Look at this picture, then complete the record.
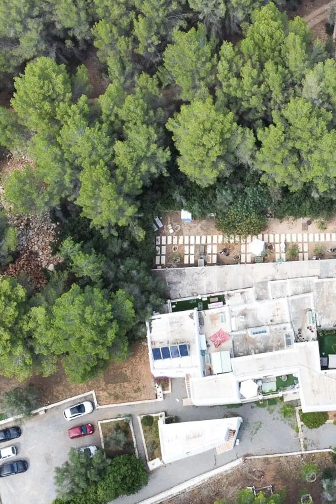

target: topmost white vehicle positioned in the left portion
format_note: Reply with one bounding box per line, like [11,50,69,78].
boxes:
[62,400,95,421]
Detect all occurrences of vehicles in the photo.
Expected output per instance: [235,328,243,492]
[0,460,29,477]
[62,400,95,421]
[0,425,22,442]
[73,442,99,457]
[68,423,95,439]
[0,445,18,461]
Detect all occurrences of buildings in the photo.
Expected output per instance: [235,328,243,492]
[146,413,245,470]
[146,259,336,414]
